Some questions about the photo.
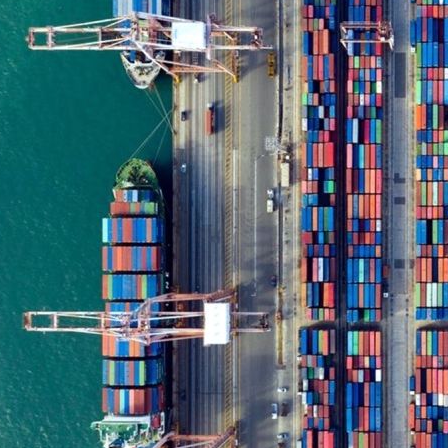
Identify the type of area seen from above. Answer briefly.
port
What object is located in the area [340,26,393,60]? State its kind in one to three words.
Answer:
container crane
